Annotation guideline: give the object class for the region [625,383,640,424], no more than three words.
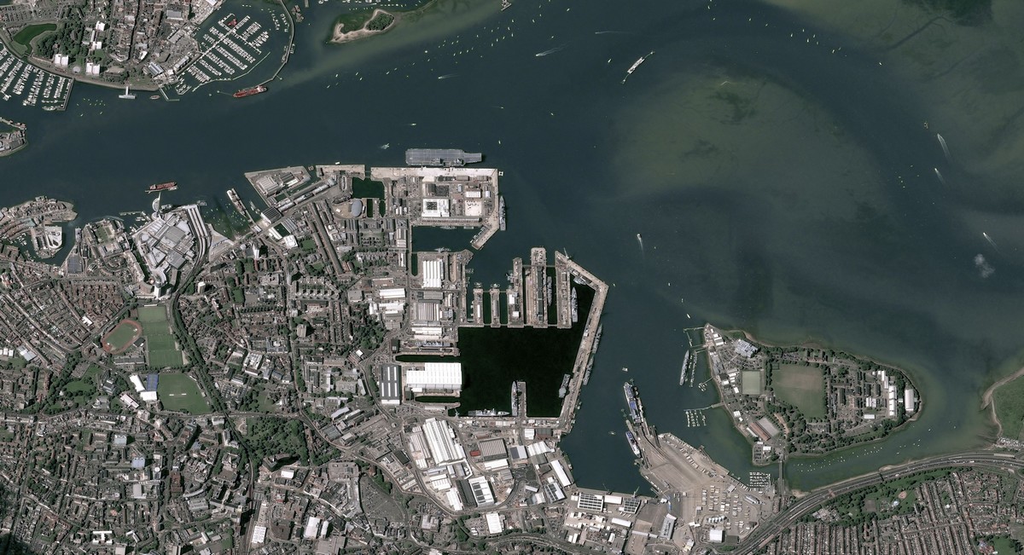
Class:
ship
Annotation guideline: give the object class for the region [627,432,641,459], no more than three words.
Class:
ship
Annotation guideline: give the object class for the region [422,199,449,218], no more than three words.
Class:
building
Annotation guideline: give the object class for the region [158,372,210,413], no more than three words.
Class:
sports field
